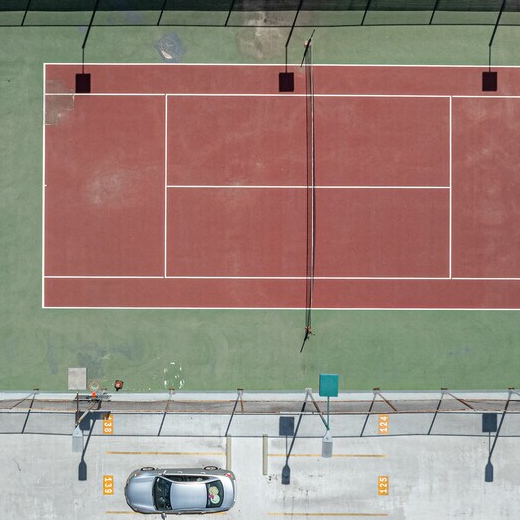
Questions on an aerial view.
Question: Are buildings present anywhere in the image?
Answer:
No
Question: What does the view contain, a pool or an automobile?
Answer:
automobile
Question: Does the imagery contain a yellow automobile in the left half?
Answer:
No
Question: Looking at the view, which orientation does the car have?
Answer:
from side to side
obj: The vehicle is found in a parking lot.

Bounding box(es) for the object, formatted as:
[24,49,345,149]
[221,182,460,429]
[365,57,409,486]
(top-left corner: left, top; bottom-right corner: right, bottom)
[127,467,234,519]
